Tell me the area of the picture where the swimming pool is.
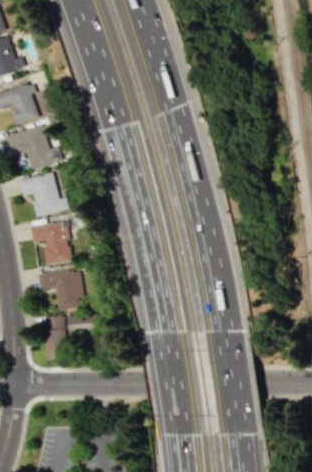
top left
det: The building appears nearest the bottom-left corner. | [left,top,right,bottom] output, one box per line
[46,316,66,360]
